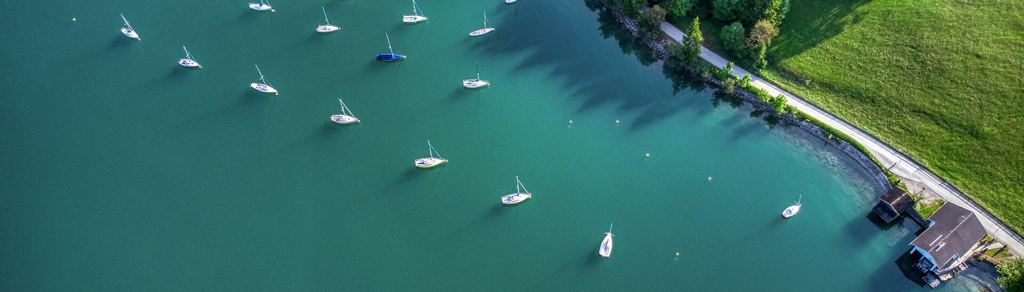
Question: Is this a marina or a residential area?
marina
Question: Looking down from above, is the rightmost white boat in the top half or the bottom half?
bottom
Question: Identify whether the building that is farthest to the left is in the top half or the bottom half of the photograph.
bottom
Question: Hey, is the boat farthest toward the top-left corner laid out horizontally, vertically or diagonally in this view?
diagonally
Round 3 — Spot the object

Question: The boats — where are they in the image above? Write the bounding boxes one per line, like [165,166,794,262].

[120,15,140,41]
[502,177,530,205]
[781,195,801,219]
[249,64,278,94]
[177,47,200,69]
[916,260,931,274]
[415,140,444,168]
[331,98,358,125]
[403,0,425,23]
[375,33,403,61]
[469,11,494,38]
[315,7,338,34]
[599,224,613,258]
[248,0,271,11]
[462,66,487,88]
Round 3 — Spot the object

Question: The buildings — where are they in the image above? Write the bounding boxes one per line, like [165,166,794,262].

[871,186,914,223]
[904,202,989,285]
